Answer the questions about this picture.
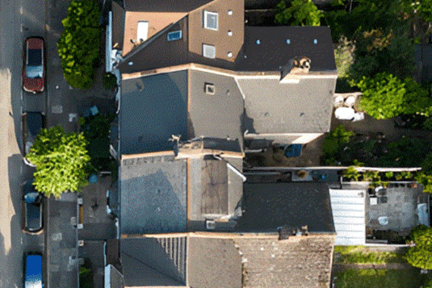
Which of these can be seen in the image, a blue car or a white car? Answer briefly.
blue car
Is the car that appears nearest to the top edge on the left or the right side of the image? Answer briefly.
left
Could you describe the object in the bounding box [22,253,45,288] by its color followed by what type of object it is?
blue car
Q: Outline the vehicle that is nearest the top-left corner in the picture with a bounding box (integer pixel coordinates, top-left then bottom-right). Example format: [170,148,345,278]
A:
[20,38,48,95]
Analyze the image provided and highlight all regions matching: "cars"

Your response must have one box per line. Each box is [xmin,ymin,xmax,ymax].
[19,112,44,166]
[20,182,46,234]
[22,253,45,288]
[20,38,48,95]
